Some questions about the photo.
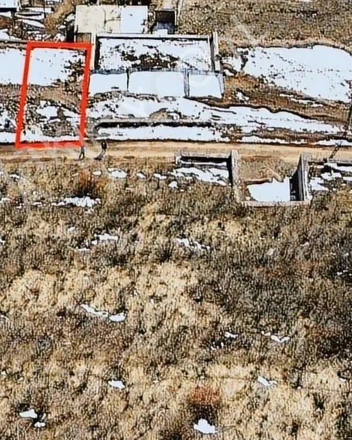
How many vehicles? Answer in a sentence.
I count no vehicles.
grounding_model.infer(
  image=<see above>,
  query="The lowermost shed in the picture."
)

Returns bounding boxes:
[84,72,225,101]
